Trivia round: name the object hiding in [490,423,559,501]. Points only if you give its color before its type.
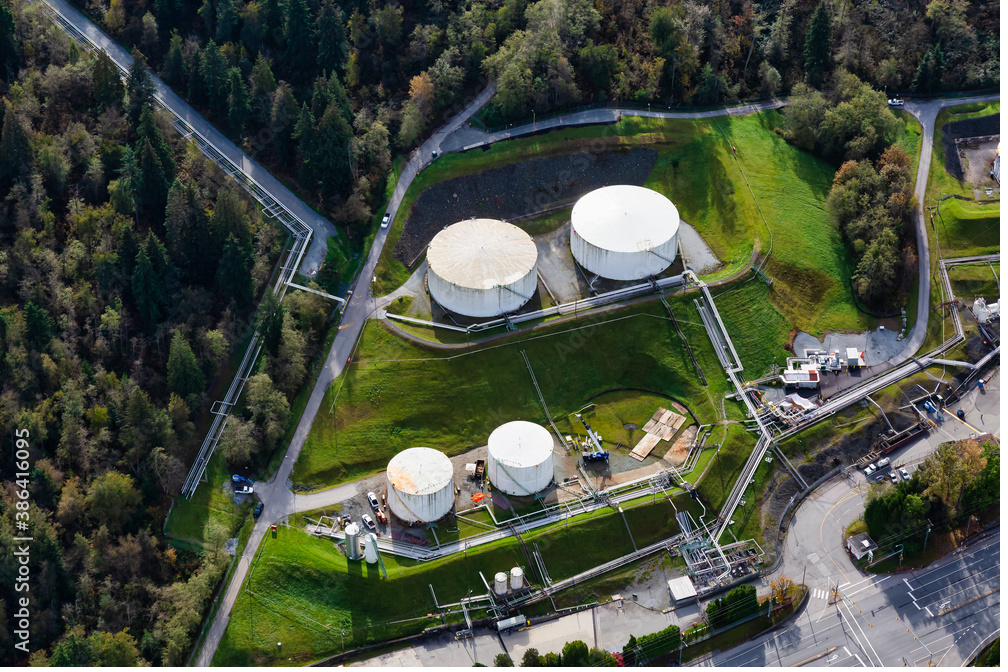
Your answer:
white storage tank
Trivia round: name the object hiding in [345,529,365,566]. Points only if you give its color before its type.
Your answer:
gray silo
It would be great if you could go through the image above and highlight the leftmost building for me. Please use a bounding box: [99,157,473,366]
[673,580,703,611]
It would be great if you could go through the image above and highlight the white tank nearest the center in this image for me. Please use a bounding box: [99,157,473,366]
[429,219,542,322]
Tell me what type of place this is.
industrial area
